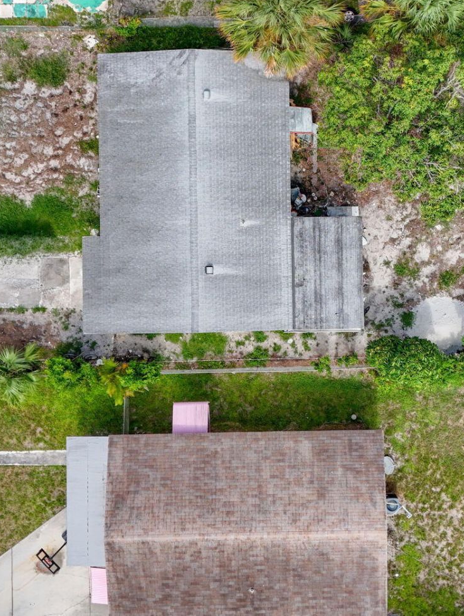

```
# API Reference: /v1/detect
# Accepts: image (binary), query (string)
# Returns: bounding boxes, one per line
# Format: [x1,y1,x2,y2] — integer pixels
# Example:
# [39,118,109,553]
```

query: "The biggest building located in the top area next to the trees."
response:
[83,49,365,335]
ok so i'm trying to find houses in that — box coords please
[65,402,389,616]
[83,49,365,335]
